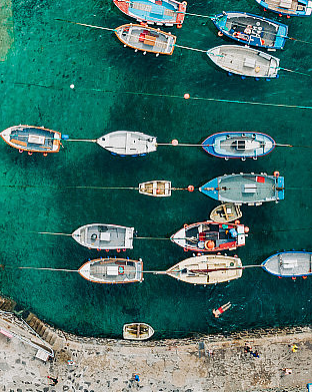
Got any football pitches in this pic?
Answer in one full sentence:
No, no football pitch can be seen from above.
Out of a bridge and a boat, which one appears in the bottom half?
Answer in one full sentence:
What appears in the bottom half is a boat.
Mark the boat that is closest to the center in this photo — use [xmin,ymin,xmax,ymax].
[138,180,171,197]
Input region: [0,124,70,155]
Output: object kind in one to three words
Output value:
boat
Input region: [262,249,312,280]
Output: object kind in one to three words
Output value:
boat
